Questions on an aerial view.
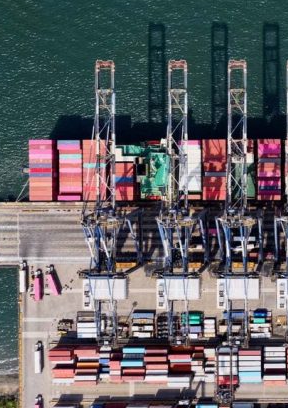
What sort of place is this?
port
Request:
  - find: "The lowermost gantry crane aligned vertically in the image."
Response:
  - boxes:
[215,338,238,404]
